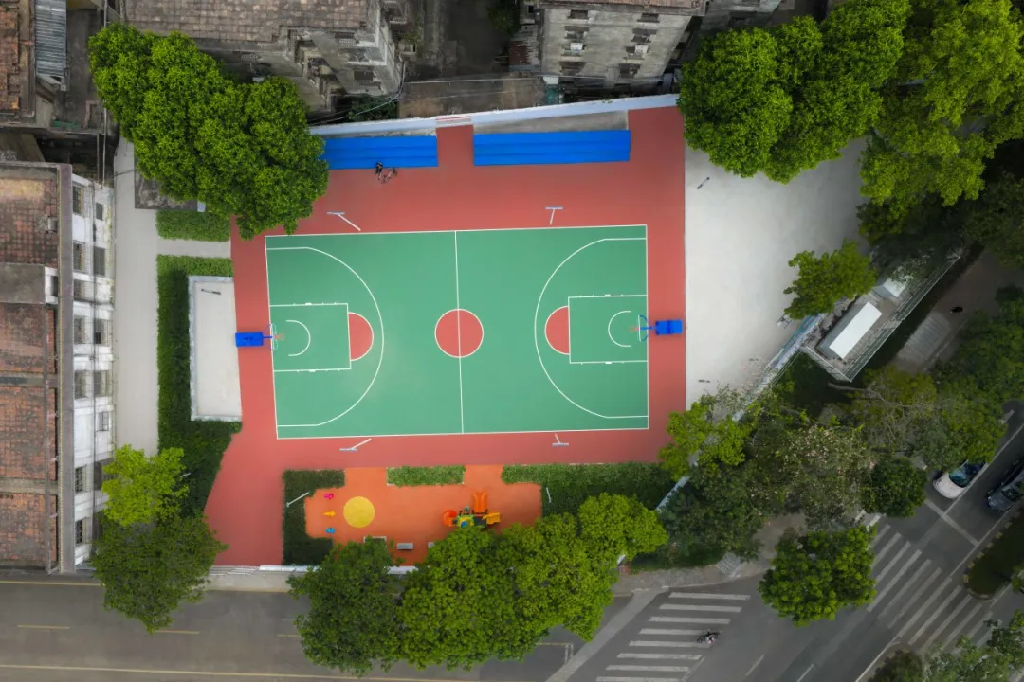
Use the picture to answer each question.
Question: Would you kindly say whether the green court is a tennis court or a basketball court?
basketball court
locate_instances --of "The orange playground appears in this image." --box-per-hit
[305,465,543,567]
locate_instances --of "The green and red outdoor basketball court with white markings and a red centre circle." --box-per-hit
[205,106,686,568]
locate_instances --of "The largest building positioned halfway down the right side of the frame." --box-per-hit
[814,302,881,362]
